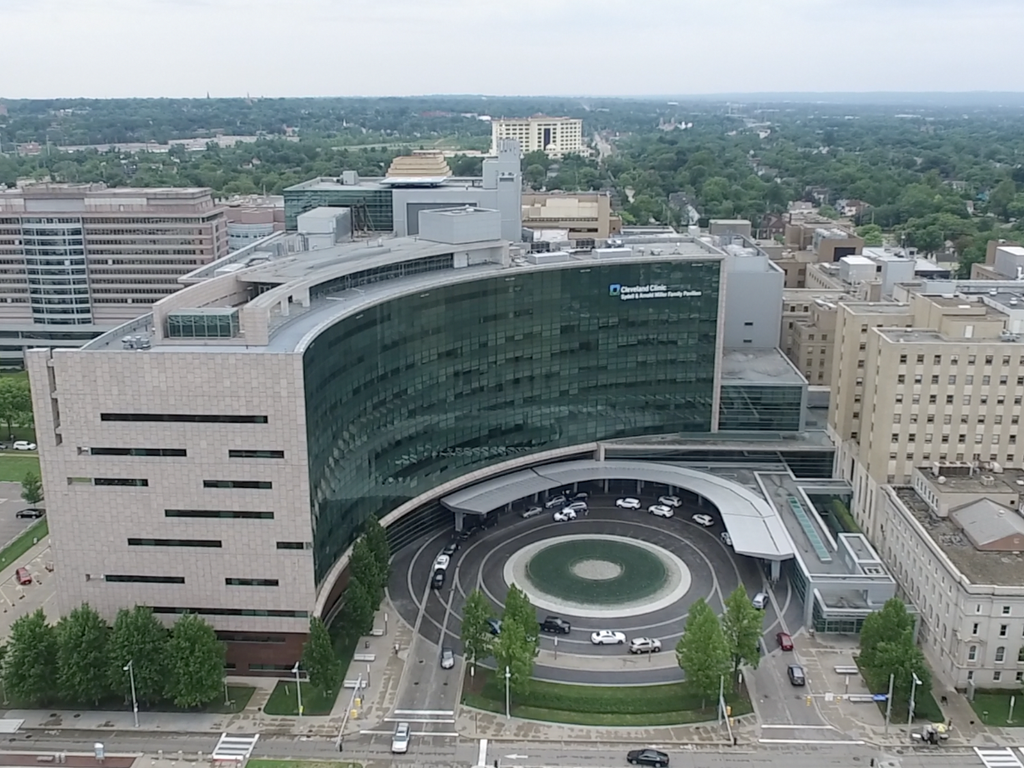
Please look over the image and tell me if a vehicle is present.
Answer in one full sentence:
Yes, there's a vehicle here.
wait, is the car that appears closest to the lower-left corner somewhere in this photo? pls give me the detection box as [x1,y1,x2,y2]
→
[15,568,32,586]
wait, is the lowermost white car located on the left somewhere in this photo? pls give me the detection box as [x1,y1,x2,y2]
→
[388,724,414,754]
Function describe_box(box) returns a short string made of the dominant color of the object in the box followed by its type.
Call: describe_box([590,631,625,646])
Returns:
white car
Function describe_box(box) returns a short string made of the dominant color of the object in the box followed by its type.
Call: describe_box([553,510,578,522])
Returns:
white vehicle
